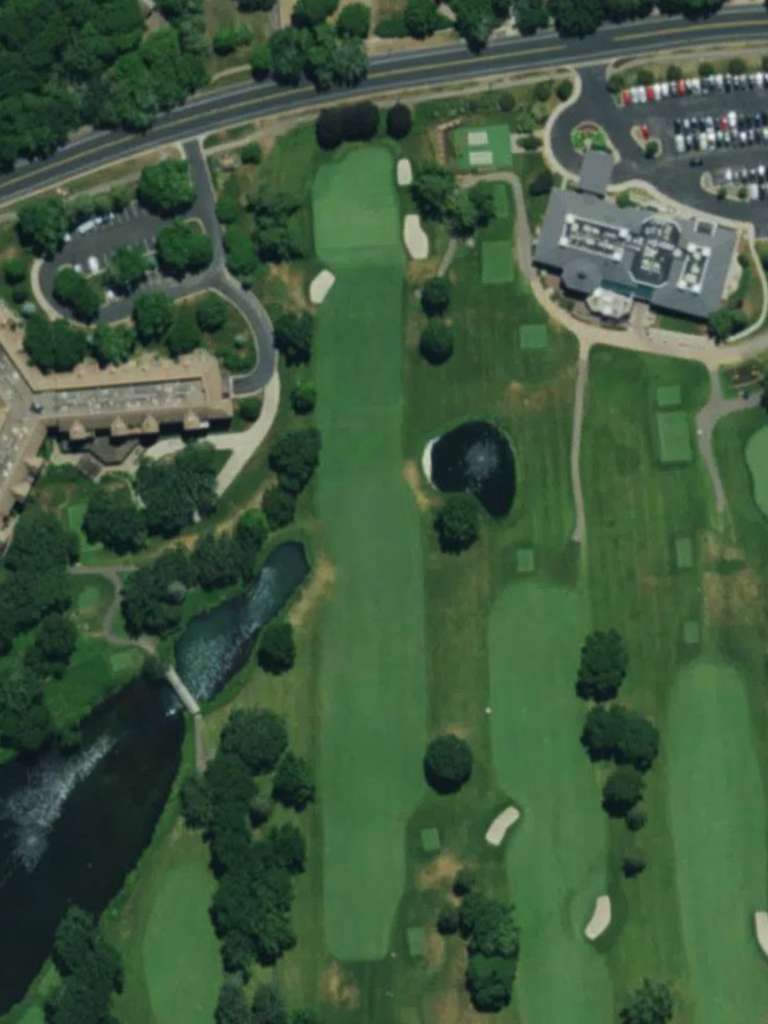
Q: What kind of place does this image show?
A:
golf course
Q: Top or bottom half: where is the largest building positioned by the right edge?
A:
top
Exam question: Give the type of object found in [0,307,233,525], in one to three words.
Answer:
building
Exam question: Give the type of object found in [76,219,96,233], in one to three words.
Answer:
vehicle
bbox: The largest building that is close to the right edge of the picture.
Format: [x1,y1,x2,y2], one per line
[533,152,738,329]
